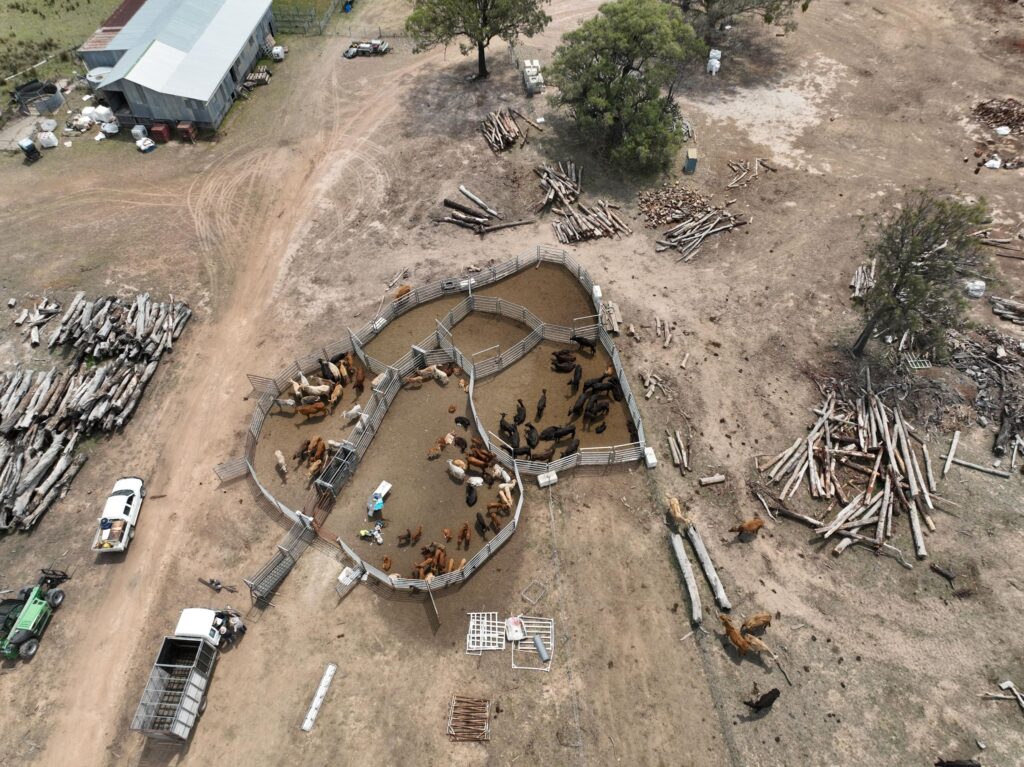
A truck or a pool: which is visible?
truck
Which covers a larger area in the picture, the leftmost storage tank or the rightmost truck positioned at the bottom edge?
the truck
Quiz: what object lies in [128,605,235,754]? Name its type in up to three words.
truck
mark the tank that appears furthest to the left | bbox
[5,82,64,119]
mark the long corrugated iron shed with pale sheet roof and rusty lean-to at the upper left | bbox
[77,0,291,128]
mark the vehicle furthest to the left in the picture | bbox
[0,560,77,662]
